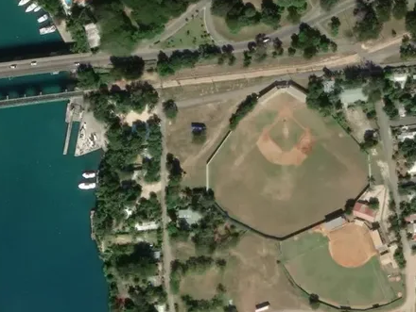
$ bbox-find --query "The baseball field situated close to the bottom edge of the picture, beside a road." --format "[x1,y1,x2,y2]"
[280,223,399,309]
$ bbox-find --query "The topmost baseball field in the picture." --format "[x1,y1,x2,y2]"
[207,89,370,239]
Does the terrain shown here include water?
Yes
